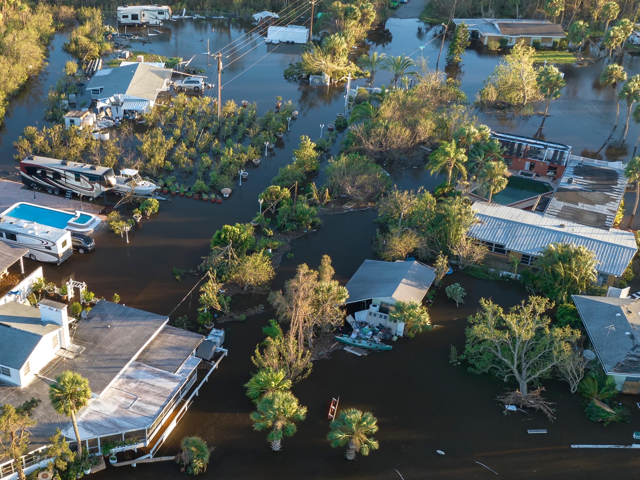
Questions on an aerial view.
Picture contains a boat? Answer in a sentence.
Yes, the frame does contain a boat.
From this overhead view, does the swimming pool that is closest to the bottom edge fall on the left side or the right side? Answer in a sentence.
The swimming pool that is closest to the bottom edge is on the left side of the image.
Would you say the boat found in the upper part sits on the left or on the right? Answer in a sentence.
You can find the boat found in the upper part on the left side of the picture.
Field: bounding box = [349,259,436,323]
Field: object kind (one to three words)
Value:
house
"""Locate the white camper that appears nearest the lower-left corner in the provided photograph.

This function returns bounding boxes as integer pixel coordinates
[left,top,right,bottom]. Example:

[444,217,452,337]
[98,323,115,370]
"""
[0,215,73,265]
